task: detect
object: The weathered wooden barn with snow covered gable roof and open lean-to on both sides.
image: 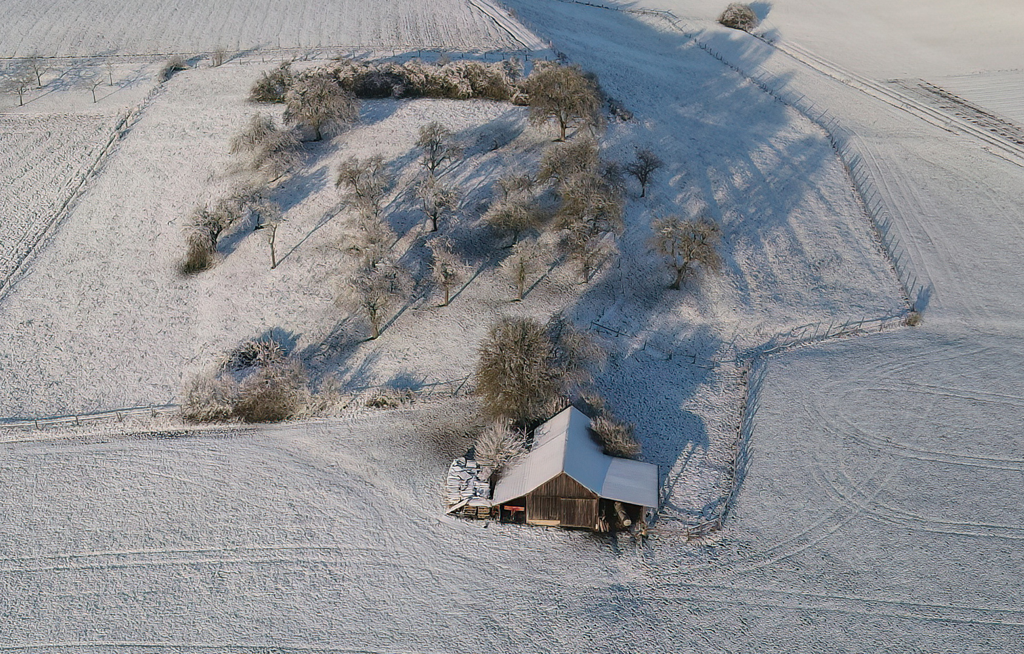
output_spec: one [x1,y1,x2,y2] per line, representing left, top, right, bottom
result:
[492,402,663,533]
